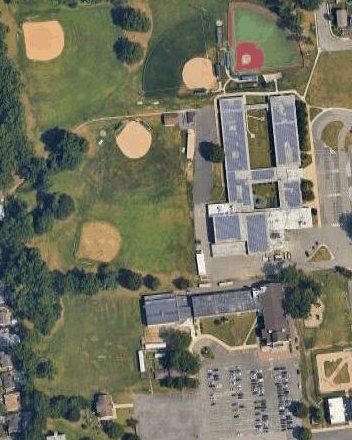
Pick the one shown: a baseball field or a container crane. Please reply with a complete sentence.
Of the two, only a baseball field appears.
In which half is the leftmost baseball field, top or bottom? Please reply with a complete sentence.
The leftmost baseball field sits in the top half of the picture.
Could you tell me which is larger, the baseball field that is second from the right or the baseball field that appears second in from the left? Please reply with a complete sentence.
The baseball field that appears second in from the left is smaller than the baseball field that is second from the right.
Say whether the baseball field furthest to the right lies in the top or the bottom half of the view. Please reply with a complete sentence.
The top half of the photo is where the baseball field furthest to the right is.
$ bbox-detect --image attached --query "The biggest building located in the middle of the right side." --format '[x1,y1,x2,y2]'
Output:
[209,95,314,258]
